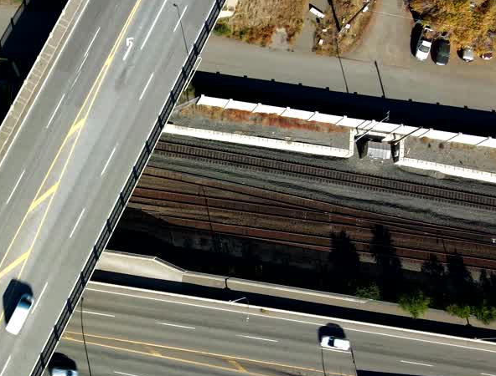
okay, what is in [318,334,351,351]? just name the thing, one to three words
car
